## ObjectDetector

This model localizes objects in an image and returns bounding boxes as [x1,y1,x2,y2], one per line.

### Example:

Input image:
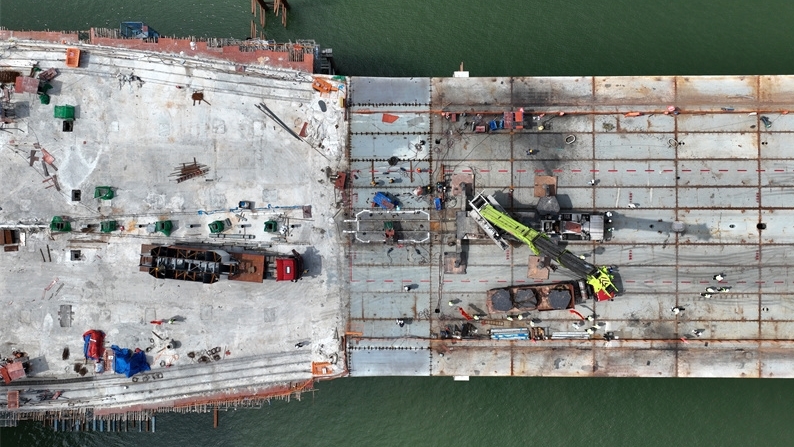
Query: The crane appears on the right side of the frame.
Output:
[456,182,630,300]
